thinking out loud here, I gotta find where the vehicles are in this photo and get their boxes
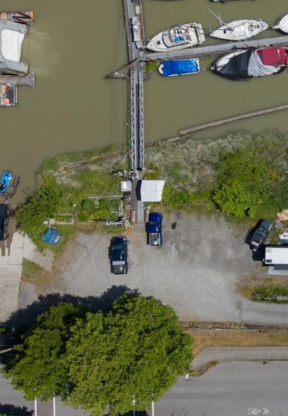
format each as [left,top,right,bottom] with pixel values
[262,238,288,271]
[108,237,130,275]
[0,203,12,240]
[145,213,164,246]
[245,217,273,253]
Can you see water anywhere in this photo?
Yes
